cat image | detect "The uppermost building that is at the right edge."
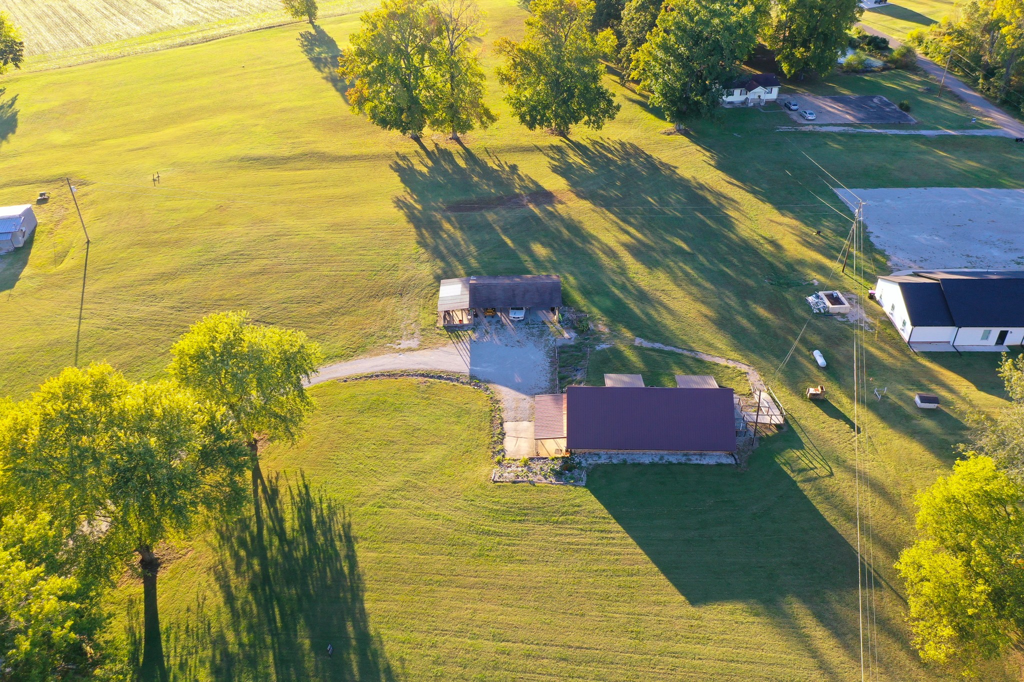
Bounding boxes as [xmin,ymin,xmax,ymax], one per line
[870,266,1024,356]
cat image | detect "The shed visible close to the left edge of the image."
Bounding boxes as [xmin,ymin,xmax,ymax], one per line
[0,203,37,255]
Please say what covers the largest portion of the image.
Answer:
grass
